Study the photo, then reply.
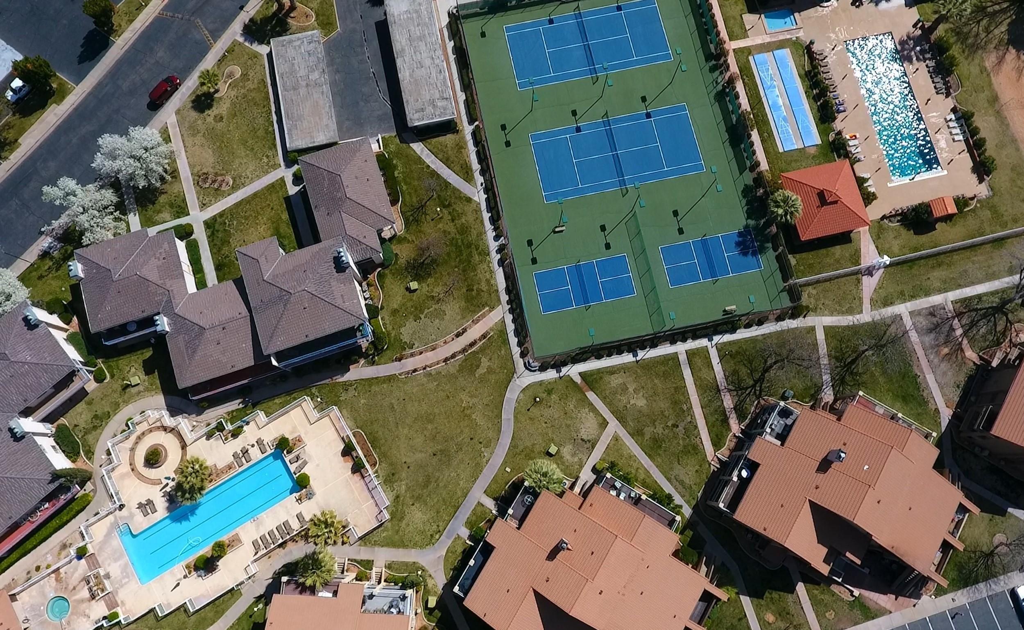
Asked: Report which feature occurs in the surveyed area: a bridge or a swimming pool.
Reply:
swimming pool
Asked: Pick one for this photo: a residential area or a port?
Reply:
residential area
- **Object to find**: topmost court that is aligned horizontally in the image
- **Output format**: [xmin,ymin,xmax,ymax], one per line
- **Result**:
[503,0,673,90]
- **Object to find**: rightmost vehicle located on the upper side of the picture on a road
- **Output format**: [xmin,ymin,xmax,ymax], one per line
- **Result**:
[149,72,181,103]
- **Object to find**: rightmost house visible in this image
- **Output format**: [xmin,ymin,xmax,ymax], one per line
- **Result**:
[954,322,1024,467]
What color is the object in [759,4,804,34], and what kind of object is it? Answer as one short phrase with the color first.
blue swimming pool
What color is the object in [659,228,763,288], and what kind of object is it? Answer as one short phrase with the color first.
blue sports court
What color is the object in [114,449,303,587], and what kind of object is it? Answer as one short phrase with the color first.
blue swimming pool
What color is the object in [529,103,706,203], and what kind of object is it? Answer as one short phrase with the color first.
blue tennis court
